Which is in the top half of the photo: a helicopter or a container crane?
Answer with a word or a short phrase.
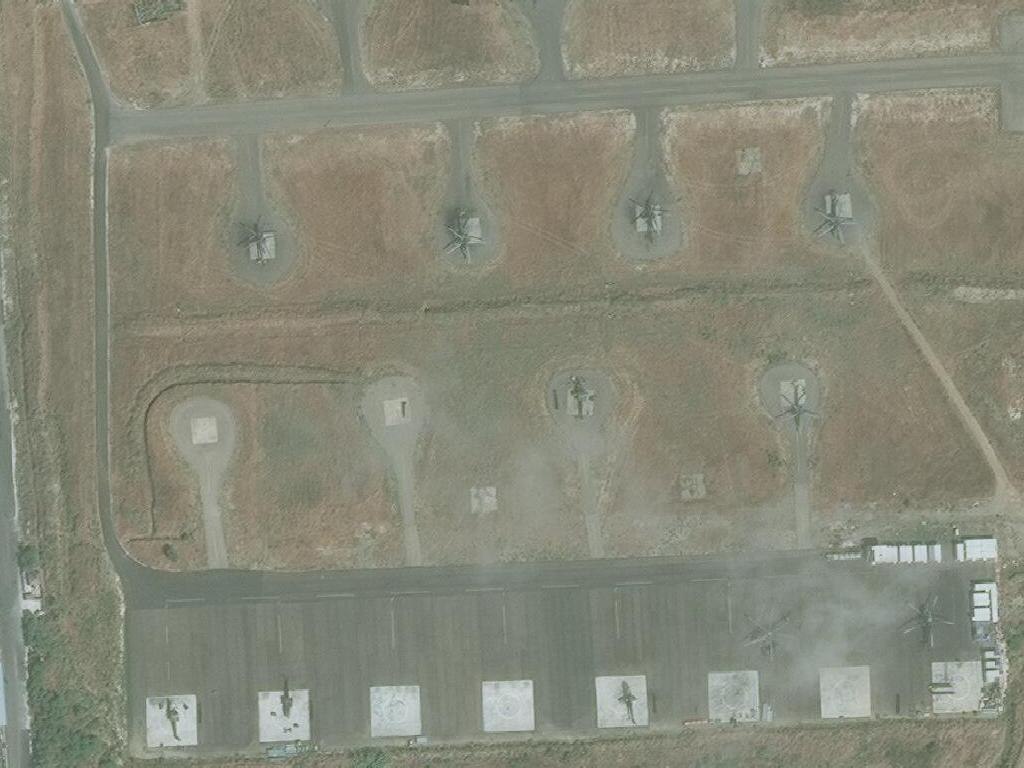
helicopter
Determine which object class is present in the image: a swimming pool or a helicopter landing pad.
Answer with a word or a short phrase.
helicopter landing pad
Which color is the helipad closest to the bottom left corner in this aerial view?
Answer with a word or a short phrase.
white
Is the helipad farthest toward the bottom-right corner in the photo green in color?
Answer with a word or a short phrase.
No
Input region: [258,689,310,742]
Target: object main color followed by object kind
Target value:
white helipad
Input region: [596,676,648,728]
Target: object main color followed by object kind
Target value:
white helipad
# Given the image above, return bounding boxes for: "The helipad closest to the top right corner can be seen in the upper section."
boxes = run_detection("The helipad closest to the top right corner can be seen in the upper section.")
[825,194,852,220]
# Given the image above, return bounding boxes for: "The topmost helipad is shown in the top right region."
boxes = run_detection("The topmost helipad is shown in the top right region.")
[738,149,762,174]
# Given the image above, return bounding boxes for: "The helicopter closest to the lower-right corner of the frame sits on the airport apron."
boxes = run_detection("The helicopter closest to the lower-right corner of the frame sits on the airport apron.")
[906,588,956,646]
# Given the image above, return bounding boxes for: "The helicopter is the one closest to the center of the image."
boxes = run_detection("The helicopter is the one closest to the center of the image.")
[570,375,586,420]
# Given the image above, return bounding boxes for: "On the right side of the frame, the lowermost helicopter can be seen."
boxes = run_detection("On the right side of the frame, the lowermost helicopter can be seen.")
[620,682,638,726]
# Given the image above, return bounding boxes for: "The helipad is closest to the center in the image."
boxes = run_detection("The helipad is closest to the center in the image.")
[568,389,593,416]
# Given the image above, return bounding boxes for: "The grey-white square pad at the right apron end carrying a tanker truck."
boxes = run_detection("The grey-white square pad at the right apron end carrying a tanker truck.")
[932,661,983,713]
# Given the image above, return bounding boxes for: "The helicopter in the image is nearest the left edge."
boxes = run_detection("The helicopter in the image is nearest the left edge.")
[164,697,181,740]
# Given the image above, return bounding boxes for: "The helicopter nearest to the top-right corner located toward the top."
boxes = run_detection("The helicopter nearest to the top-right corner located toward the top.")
[813,192,862,248]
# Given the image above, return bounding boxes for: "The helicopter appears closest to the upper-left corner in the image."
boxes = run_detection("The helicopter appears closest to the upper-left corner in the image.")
[237,211,286,268]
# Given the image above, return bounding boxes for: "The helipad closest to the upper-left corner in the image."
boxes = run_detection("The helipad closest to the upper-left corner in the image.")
[249,232,275,260]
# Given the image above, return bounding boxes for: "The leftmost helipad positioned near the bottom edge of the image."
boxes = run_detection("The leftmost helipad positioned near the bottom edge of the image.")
[146,695,197,747]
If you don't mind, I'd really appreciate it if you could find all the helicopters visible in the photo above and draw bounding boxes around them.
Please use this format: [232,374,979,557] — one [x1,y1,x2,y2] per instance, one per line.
[745,598,796,660]
[626,186,675,247]
[620,682,638,726]
[570,375,586,420]
[237,211,286,268]
[164,697,181,740]
[441,208,490,264]
[813,192,862,248]
[771,378,822,436]
[906,588,956,646]
[278,677,295,720]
